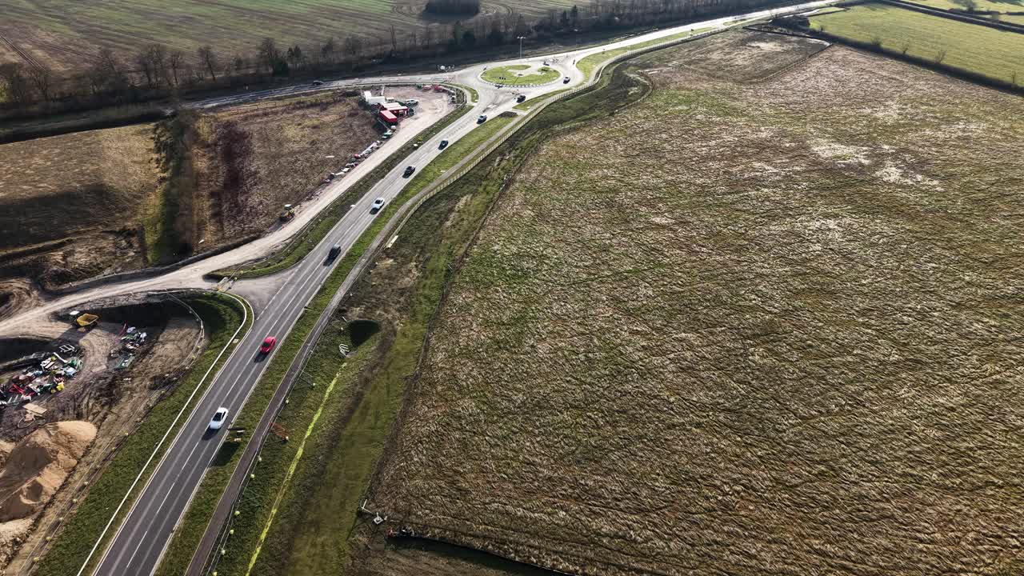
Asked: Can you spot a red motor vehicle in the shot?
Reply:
Yes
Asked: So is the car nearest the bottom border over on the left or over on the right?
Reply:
left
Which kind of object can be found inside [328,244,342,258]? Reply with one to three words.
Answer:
car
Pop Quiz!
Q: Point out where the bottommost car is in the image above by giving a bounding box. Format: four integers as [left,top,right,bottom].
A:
[207,408,228,430]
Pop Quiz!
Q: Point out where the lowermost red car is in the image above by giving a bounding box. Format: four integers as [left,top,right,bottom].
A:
[259,337,275,353]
